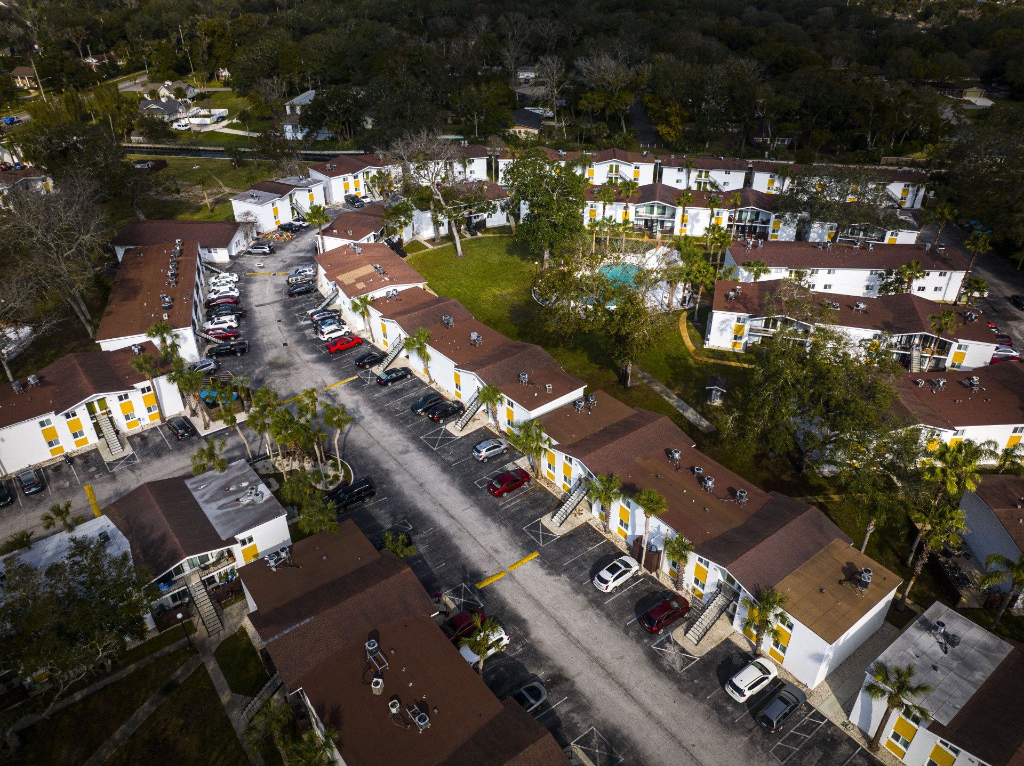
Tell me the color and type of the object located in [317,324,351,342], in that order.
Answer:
white car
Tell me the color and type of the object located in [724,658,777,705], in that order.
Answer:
white car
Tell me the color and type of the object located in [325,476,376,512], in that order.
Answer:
black car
